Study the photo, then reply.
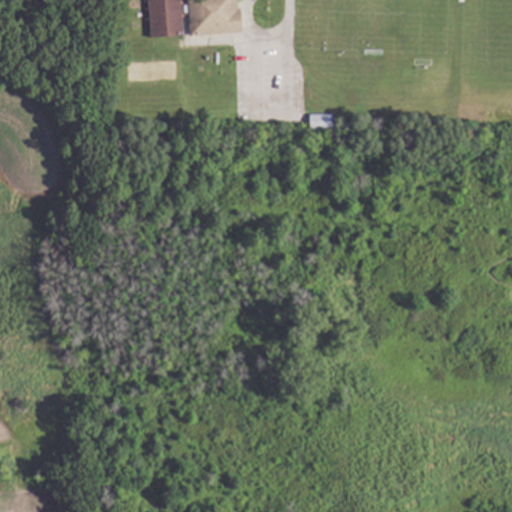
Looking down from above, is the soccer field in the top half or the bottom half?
top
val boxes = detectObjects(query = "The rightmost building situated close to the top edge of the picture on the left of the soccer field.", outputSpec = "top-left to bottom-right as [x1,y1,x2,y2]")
[188,0,242,34]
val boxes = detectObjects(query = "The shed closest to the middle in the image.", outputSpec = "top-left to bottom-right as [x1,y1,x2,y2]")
[310,112,334,128]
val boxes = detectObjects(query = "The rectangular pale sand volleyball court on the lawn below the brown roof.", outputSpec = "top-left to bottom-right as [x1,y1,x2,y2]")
[128,58,176,82]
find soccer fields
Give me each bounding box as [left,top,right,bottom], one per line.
[296,0,450,54]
